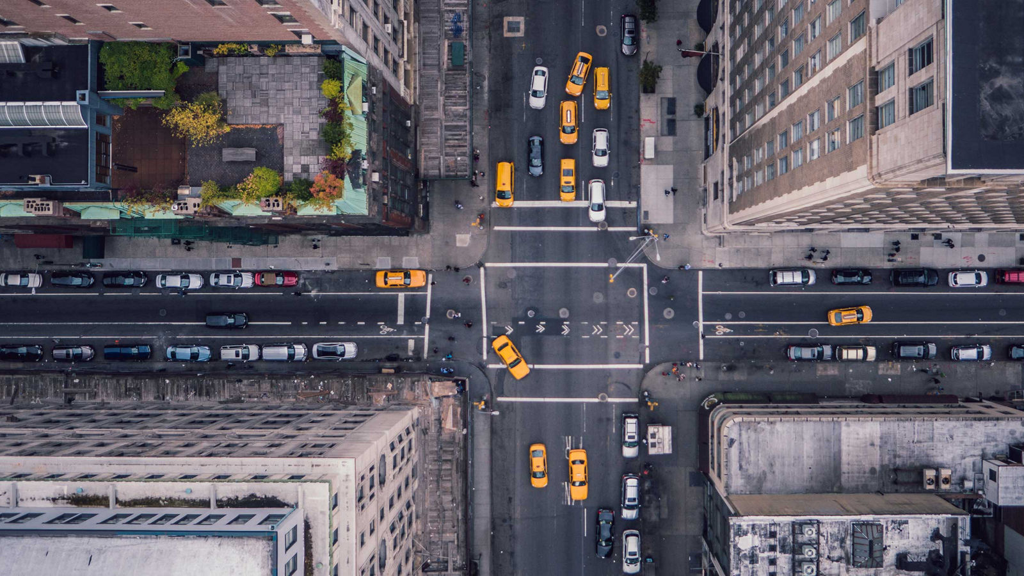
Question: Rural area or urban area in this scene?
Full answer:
The land in this view is best described as urban.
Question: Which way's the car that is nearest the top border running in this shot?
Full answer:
The car that is nearest the top border is oriented vertically.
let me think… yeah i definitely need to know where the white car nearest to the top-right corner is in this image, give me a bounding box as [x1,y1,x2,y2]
[946,269,987,289]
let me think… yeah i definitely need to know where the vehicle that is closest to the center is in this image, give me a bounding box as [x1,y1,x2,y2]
[493,333,529,381]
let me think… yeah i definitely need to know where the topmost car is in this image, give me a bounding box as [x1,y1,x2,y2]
[619,14,639,57]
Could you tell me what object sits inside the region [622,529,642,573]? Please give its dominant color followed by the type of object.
white car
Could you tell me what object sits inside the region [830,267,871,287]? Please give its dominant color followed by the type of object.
black car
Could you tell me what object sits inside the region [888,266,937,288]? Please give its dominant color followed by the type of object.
black car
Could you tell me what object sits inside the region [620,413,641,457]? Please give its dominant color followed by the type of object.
white car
